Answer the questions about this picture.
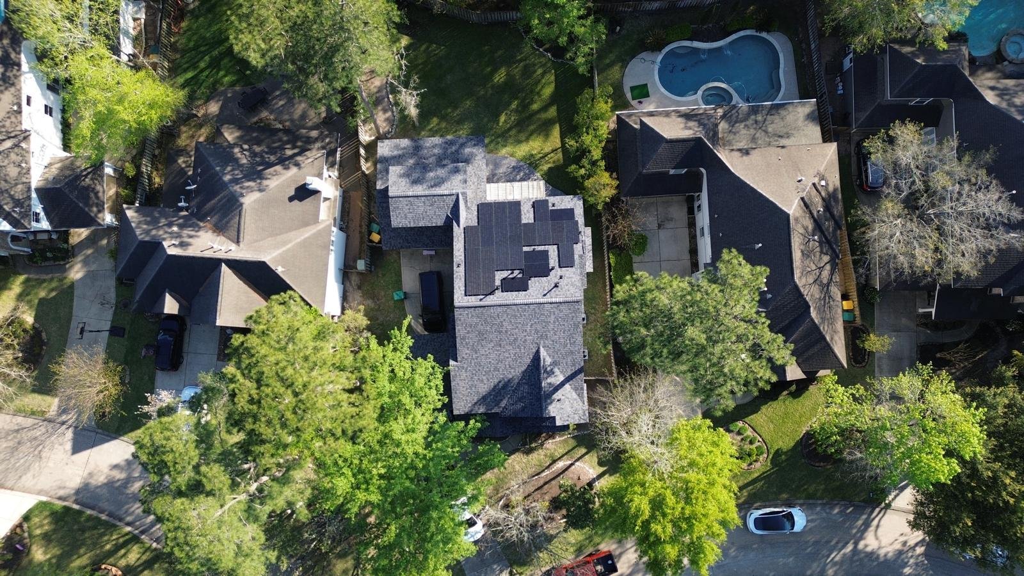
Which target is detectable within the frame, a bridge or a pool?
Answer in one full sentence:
Of the two, only a pool appears.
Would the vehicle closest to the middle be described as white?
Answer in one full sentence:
No, the color of the vehicle closest to the middle is black.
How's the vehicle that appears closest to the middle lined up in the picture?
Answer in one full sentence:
Seen from above, the vehicle that appears closest to the middle lies up and down.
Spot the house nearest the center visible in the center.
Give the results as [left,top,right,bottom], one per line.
[376,136,593,440]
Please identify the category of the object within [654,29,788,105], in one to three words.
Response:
swimming pool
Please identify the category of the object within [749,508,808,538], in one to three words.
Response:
car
